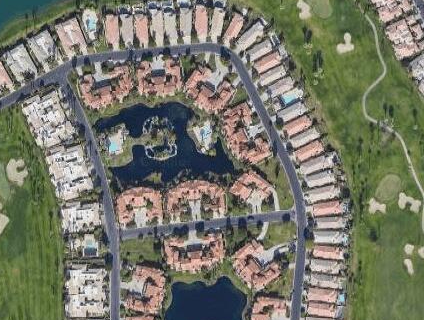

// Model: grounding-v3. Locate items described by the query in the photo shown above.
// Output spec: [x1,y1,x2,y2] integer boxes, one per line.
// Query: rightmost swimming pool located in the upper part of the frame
[277,90,302,107]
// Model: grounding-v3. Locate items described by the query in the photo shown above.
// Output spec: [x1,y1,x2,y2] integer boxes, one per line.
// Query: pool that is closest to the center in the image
[195,122,212,150]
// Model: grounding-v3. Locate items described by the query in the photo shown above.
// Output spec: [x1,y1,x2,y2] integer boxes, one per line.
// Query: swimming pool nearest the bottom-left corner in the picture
[82,234,98,257]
